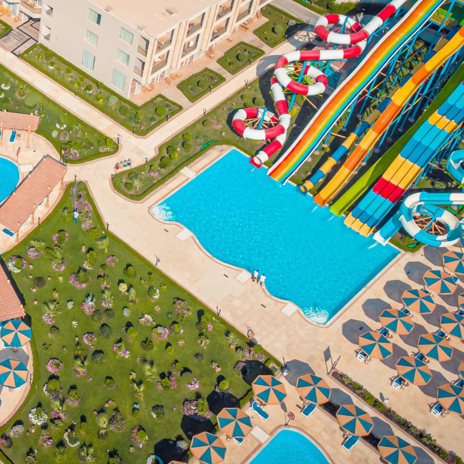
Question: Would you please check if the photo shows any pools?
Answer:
Yes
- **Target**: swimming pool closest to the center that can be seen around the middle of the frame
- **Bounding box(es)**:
[148,148,405,327]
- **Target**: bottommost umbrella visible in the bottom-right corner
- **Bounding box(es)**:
[376,434,418,464]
